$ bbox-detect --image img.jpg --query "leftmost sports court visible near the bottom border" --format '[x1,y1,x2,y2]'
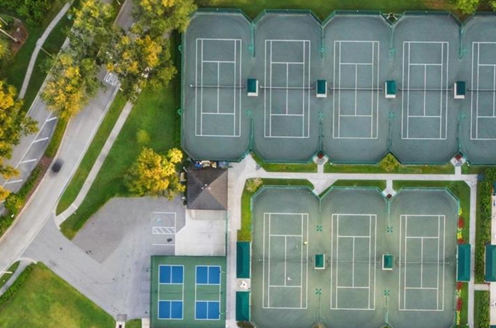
[151,256,189,328]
